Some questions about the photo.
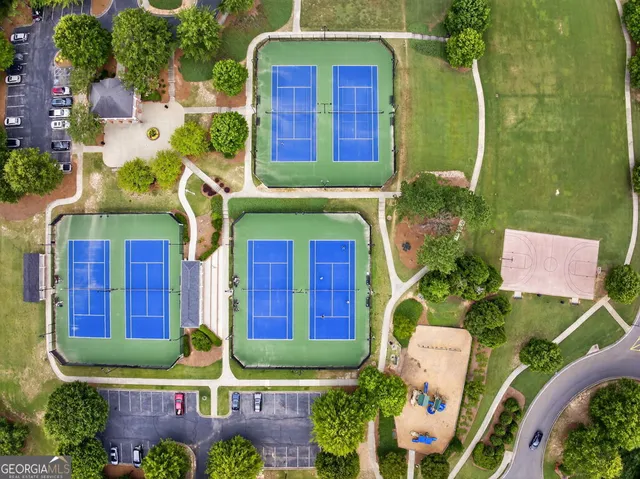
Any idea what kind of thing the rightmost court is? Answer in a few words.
basketball court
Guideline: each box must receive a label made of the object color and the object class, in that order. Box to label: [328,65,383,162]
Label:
blue tennis court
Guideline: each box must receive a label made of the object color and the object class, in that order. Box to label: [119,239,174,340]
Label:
blue tennis court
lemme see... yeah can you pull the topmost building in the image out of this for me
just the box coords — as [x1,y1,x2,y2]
[91,74,141,123]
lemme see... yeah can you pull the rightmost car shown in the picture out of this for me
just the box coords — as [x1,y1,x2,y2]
[530,431,546,451]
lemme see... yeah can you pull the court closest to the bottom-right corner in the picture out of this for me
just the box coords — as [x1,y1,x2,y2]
[500,229,599,299]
